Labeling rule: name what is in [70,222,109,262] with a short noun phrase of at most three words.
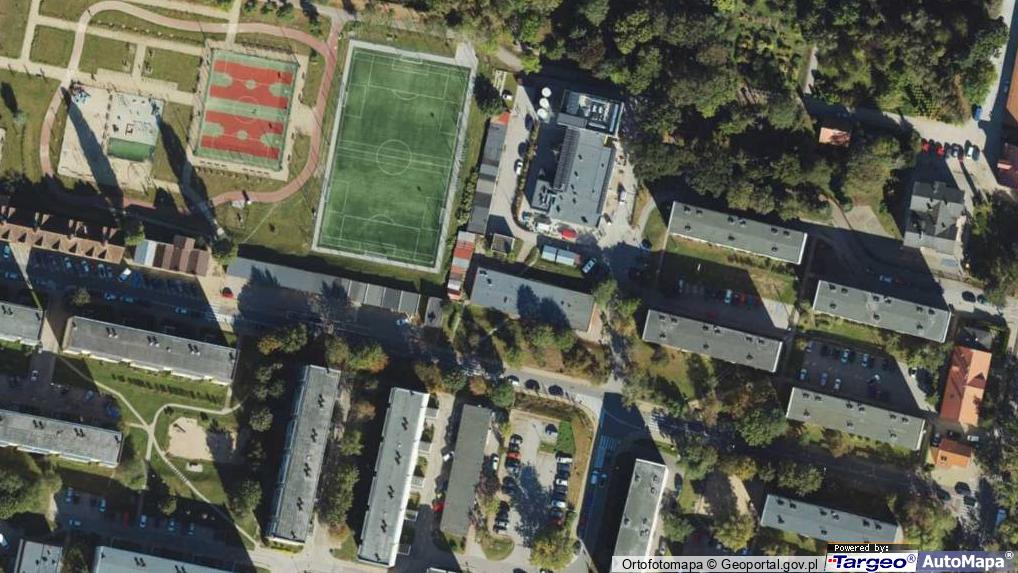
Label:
house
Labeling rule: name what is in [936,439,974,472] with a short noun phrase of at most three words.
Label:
house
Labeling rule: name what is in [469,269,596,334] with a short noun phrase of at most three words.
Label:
building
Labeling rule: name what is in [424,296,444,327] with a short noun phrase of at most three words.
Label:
shed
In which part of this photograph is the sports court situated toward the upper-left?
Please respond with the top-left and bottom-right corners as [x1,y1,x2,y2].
[188,40,313,181]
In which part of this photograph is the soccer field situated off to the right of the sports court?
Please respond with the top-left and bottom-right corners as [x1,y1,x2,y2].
[312,40,474,272]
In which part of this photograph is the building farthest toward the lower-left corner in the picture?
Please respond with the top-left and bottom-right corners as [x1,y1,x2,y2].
[16,540,68,573]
